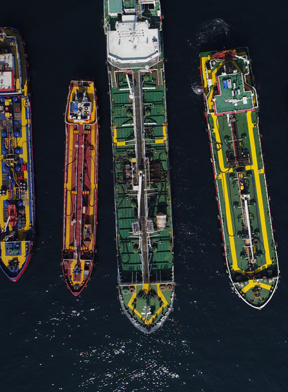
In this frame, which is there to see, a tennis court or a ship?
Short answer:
ship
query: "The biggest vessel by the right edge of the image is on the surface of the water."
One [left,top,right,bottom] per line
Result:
[198,47,279,310]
